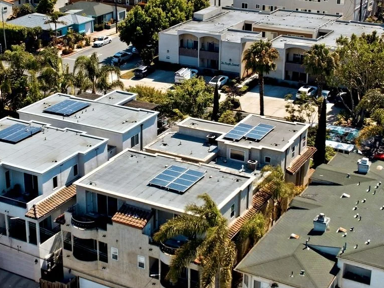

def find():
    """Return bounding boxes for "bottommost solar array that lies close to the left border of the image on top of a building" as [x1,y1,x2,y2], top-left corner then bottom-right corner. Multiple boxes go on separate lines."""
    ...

[0,123,41,146]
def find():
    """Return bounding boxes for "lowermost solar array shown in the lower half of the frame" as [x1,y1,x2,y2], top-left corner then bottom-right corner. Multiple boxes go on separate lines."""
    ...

[147,162,205,193]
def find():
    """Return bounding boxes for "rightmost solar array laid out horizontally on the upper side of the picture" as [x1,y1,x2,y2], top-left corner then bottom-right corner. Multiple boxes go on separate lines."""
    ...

[42,100,90,117]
